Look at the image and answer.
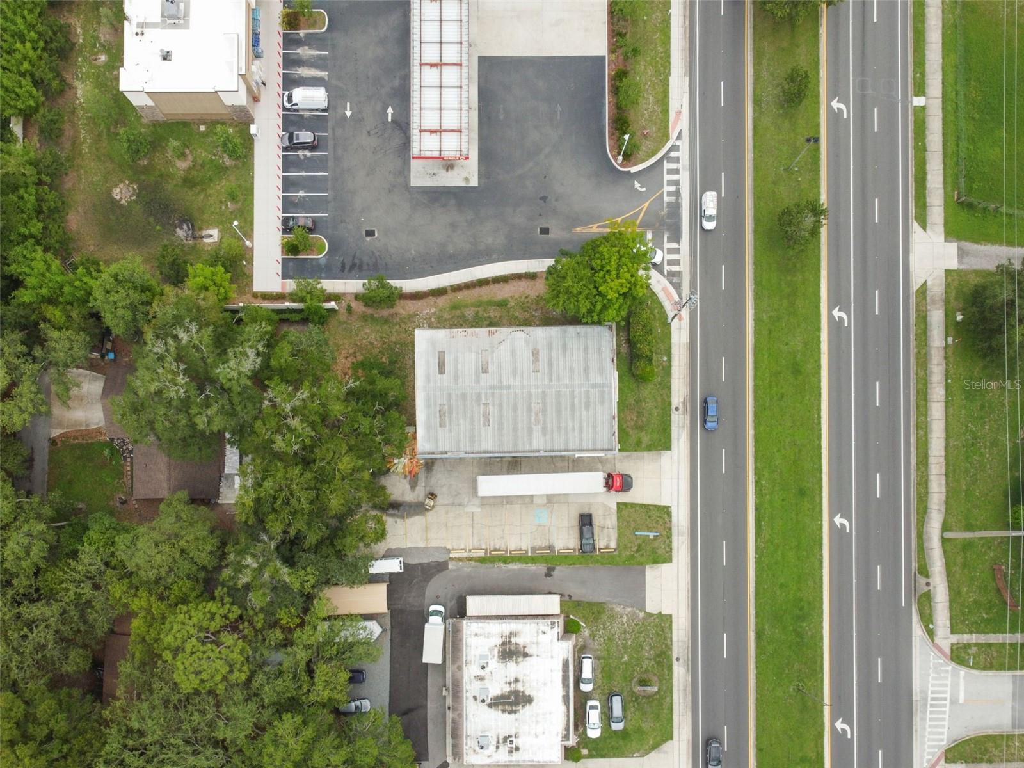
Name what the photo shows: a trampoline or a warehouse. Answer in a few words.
warehouse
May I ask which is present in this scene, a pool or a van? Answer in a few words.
van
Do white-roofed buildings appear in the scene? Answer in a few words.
Yes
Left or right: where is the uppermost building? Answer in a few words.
left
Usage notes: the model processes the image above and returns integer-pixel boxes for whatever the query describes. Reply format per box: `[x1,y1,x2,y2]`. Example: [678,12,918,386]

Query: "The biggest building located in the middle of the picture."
[414,322,619,460]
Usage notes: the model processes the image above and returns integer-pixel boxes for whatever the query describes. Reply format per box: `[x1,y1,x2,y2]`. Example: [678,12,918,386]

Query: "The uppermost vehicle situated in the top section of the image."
[284,83,328,111]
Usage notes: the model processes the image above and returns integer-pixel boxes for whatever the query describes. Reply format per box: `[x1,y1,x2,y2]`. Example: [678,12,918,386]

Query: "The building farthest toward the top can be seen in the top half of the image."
[120,0,258,121]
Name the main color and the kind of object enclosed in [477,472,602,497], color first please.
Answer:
white trailer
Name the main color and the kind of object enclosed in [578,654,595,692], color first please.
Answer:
white car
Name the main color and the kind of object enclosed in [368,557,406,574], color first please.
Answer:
white vehicle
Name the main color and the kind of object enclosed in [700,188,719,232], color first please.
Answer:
white vehicle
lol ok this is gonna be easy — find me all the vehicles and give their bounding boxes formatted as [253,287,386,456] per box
[424,491,439,510]
[585,699,603,738]
[422,603,445,665]
[284,83,328,111]
[281,130,318,152]
[338,696,372,714]
[368,557,406,574]
[602,470,633,493]
[702,396,719,431]
[578,512,597,553]
[705,737,724,768]
[608,692,626,730]
[700,188,719,232]
[282,214,317,233]
[342,669,371,685]
[578,654,595,692]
